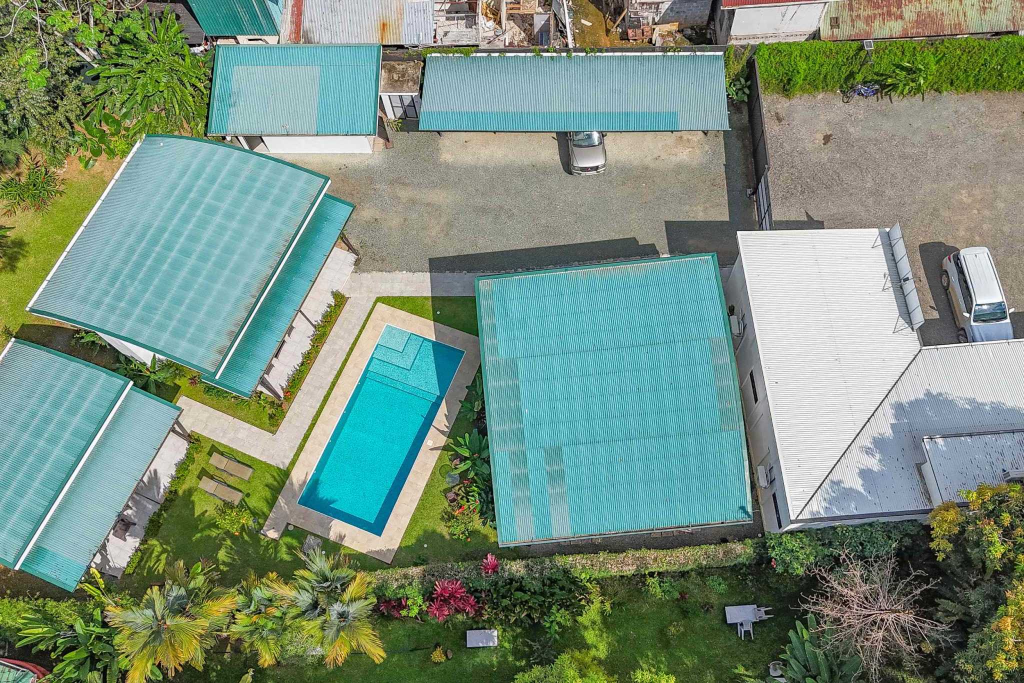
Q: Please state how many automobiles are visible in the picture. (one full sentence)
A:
I count 2 automobiles.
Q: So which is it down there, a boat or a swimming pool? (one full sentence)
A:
The one in the frame is a swimming pool.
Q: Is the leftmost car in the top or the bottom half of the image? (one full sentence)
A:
The leftmost car sits in the top half of the picture.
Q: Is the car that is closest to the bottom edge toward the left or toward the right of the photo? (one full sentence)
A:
The car that is closest to the bottom edge is on the right side of the image.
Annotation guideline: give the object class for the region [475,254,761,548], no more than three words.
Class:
building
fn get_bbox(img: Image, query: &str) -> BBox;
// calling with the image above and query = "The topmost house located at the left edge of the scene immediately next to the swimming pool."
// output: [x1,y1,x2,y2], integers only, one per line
[25,134,359,399]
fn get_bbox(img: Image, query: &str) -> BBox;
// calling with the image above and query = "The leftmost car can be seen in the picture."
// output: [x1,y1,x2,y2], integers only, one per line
[564,133,612,176]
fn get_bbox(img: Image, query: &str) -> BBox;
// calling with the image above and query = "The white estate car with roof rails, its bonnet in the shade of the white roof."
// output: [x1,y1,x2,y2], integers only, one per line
[939,247,1021,344]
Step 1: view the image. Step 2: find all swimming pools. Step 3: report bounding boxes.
[295,323,467,539]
